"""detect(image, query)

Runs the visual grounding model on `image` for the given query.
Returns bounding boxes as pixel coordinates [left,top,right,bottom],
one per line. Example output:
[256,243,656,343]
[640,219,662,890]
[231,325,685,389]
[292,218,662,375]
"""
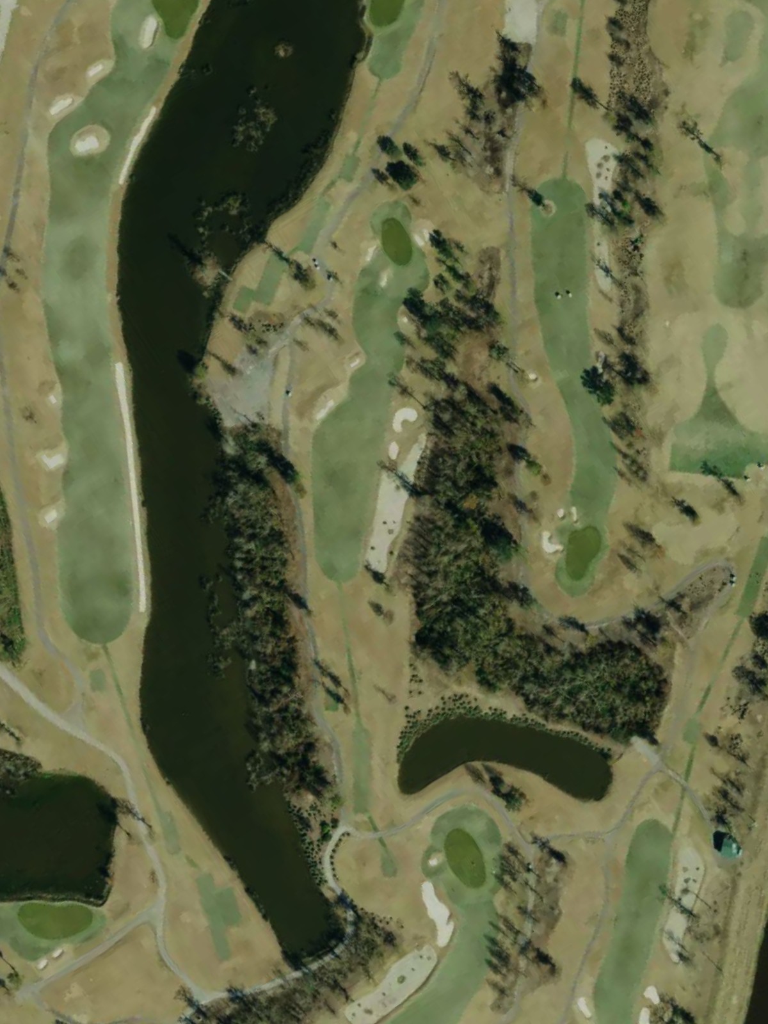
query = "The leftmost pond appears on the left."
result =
[0,773,118,904]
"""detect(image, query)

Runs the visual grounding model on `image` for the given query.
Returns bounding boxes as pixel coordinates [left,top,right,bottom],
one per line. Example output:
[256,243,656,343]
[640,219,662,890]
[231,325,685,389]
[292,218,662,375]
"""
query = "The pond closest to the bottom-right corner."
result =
[397,715,613,801]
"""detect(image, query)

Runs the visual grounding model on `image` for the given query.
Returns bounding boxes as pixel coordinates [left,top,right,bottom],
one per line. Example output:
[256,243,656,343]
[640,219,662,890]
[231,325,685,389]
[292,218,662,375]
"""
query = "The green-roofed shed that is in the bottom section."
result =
[718,839,740,860]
